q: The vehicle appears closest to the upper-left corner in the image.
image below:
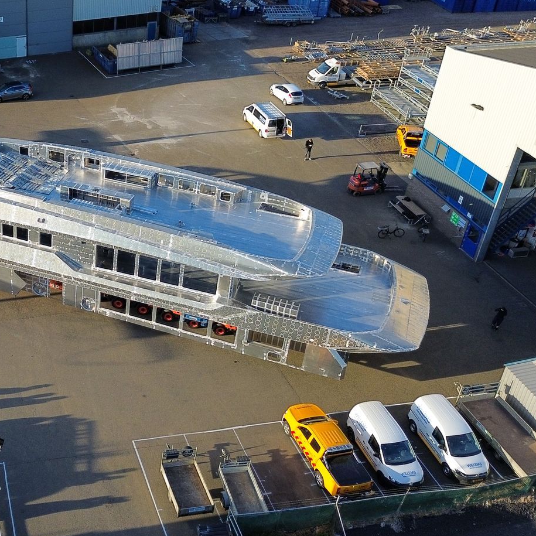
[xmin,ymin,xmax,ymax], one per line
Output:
[0,78,32,99]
